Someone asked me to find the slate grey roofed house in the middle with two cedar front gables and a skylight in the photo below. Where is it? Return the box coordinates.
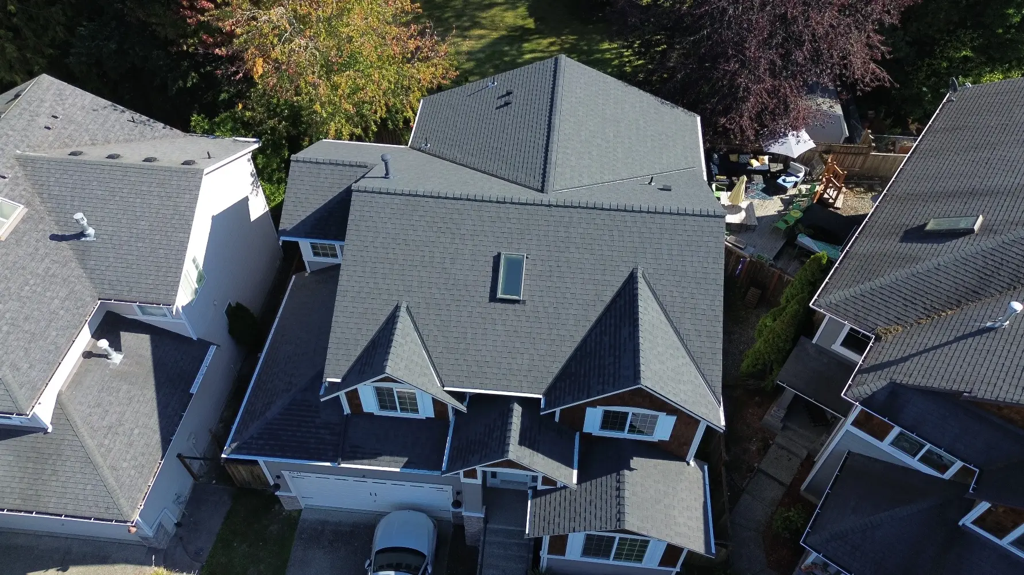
[219,53,729,575]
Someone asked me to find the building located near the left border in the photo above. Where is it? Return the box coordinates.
[0,70,288,551]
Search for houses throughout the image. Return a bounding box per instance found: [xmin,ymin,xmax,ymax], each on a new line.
[219,53,729,575]
[772,80,1024,575]
[0,70,288,551]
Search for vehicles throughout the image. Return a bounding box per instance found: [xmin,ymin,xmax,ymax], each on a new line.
[362,513,440,575]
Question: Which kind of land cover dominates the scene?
buildings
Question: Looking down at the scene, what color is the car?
blue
